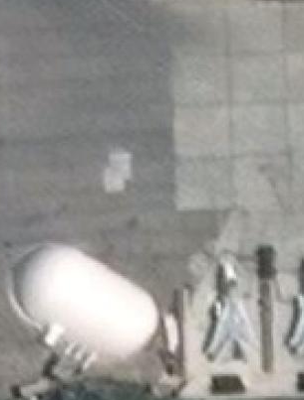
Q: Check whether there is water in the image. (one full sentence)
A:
No, there's no water in this view.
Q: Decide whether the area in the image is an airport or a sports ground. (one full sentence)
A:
What you see here is an airport.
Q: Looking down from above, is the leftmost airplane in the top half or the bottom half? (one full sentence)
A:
Seen from above, the leftmost airplane lies in the bottom half of the view.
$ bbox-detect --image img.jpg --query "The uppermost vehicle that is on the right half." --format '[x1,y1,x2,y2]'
[259,247,273,280]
